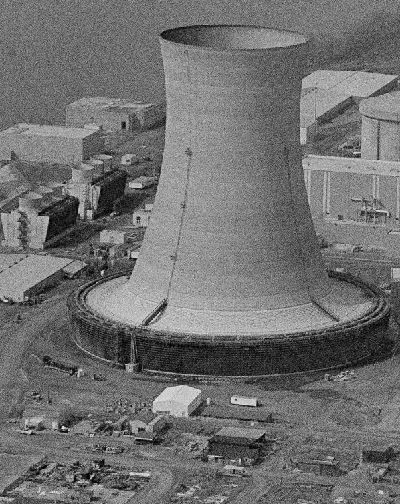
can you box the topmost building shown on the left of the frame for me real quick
[67,99,167,144]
